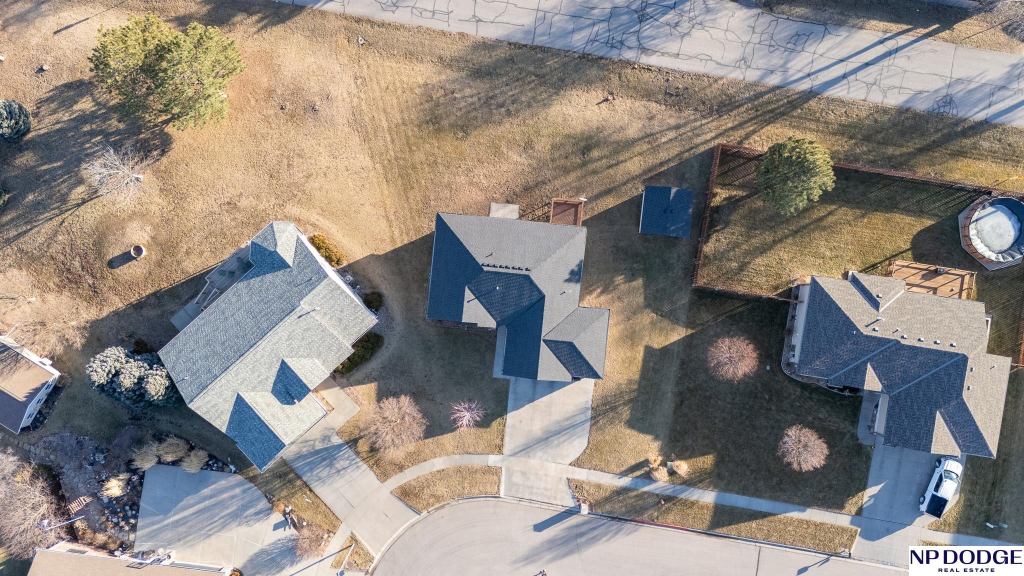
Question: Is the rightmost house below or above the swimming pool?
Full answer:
Looking at the photo, you'll find the rightmost house below the swimming pool.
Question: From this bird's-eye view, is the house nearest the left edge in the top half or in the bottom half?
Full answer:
The house nearest the left edge is in the bottom half of the image.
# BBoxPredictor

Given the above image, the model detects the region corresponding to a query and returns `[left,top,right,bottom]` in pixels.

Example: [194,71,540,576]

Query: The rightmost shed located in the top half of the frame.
[638,185,695,238]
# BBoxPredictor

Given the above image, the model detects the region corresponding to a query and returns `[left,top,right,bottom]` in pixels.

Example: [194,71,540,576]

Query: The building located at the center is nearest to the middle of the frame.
[426,211,611,383]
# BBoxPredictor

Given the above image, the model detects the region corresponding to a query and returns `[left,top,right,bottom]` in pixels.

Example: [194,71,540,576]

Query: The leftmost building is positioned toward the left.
[0,332,64,435]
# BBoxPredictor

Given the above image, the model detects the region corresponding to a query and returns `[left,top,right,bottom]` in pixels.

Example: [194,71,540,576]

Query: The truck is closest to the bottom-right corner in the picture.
[919,454,965,522]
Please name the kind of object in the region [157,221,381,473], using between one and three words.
house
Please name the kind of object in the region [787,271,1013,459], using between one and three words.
house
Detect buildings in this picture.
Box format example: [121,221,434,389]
[0,332,64,435]
[157,221,381,473]
[638,185,695,238]
[426,211,611,383]
[26,541,237,576]
[787,271,1013,459]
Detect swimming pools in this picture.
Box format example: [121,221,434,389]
[953,182,1024,271]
